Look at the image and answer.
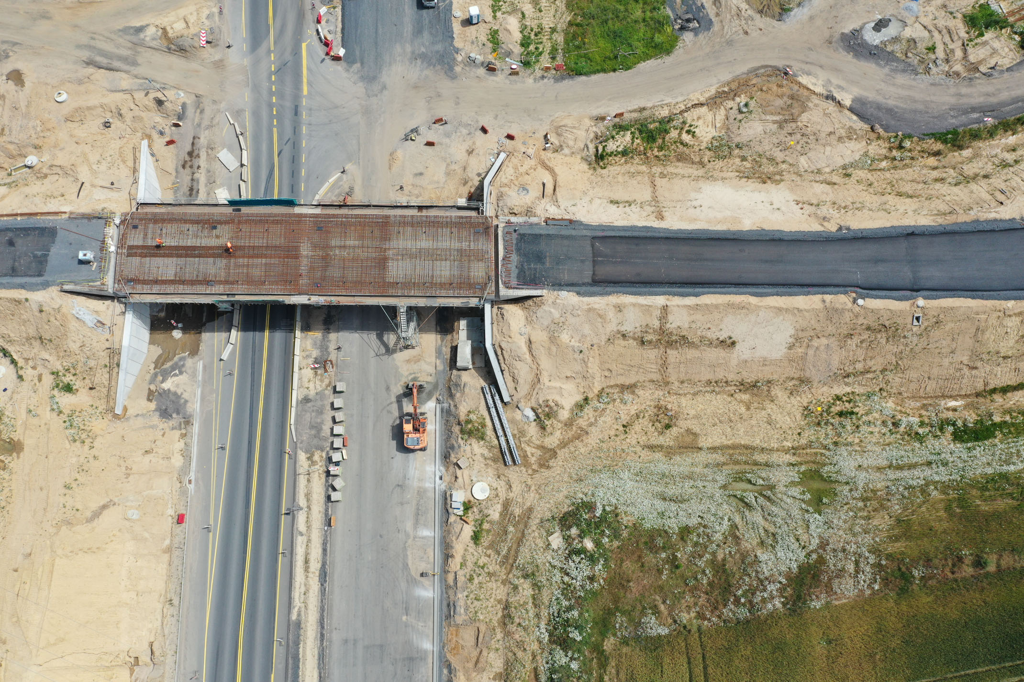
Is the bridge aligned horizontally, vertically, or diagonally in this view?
horizontally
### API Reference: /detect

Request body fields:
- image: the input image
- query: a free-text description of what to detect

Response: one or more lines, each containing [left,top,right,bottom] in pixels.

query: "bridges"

[46,195,576,316]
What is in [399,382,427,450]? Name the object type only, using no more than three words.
work vehicle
